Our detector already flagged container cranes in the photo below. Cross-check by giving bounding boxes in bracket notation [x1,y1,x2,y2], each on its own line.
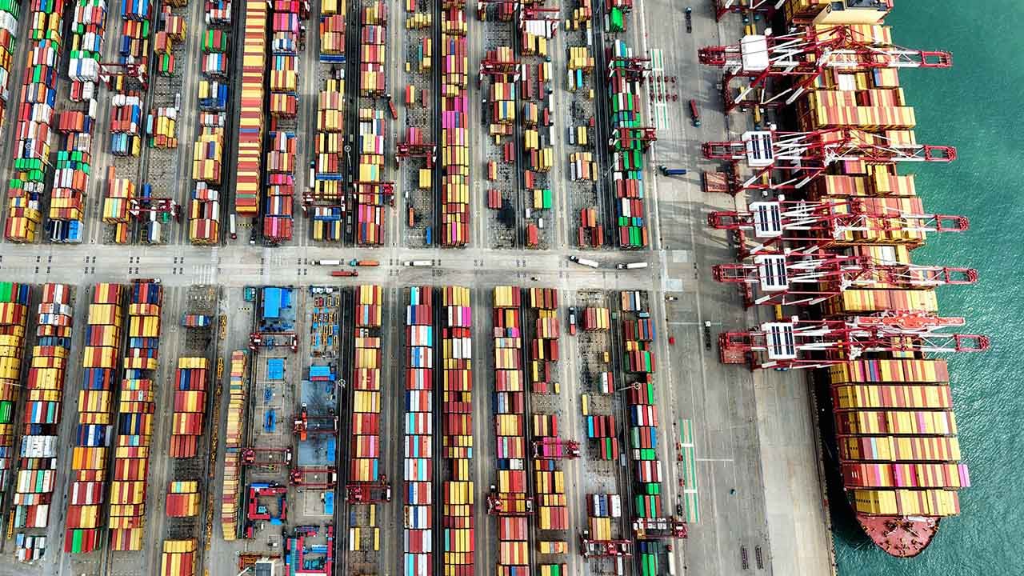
[293,414,345,436]
[303,194,351,222]
[697,118,963,202]
[690,17,948,116]
[599,59,652,92]
[707,245,983,314]
[289,466,343,489]
[570,531,632,558]
[713,313,994,375]
[130,198,192,226]
[620,513,689,539]
[249,332,305,355]
[703,192,975,264]
[241,446,300,467]
[474,0,520,28]
[525,438,580,460]
[601,127,656,158]
[477,61,521,94]
[268,0,314,25]
[98,63,162,96]
[393,143,436,173]
[513,9,560,44]
[718,0,791,32]
[483,490,533,514]
[353,182,400,210]
[345,480,392,504]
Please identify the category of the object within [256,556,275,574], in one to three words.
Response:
shed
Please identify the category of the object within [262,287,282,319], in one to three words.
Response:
shed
